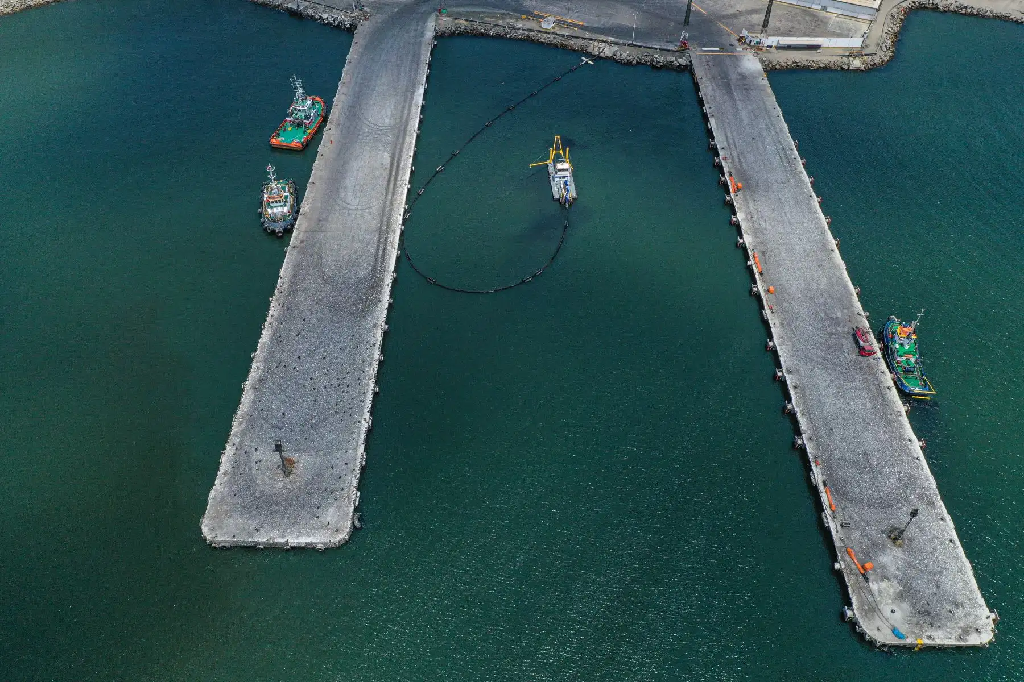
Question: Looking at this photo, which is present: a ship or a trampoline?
ship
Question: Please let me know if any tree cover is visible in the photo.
No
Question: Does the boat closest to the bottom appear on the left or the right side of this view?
right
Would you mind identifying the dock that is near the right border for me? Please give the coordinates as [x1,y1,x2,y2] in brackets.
[691,52,997,646]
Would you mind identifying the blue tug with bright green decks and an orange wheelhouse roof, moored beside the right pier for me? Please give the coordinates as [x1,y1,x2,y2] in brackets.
[882,305,939,407]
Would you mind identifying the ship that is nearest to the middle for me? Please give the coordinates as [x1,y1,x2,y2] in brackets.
[528,134,578,213]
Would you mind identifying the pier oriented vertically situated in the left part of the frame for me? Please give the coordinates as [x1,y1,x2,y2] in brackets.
[201,19,434,548]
